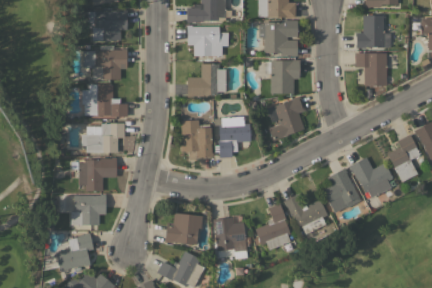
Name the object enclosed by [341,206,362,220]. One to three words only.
swimming pool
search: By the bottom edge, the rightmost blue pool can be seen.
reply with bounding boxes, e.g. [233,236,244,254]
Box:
[218,262,232,286]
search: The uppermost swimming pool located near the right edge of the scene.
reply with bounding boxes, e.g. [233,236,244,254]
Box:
[411,41,424,62]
